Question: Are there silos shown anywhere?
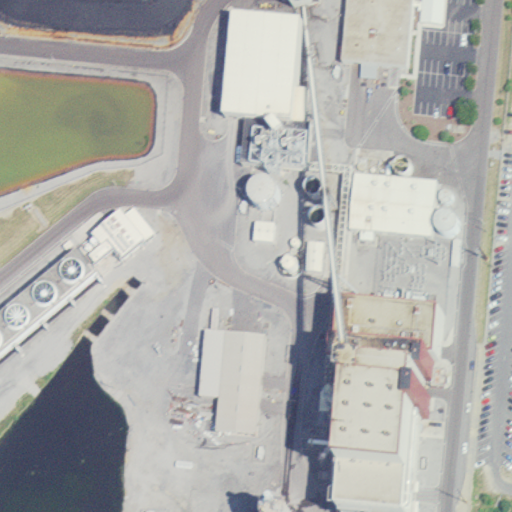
Yes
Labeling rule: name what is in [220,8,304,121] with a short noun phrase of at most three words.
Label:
building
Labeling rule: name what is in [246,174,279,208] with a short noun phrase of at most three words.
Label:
storage tank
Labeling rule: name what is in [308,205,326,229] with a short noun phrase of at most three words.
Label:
silo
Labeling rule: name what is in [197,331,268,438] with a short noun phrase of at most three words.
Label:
building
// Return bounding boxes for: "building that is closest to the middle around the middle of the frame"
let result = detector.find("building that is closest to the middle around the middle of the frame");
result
[253,221,276,244]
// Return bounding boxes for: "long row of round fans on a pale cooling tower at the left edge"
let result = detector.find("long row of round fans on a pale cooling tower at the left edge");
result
[0,243,119,372]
